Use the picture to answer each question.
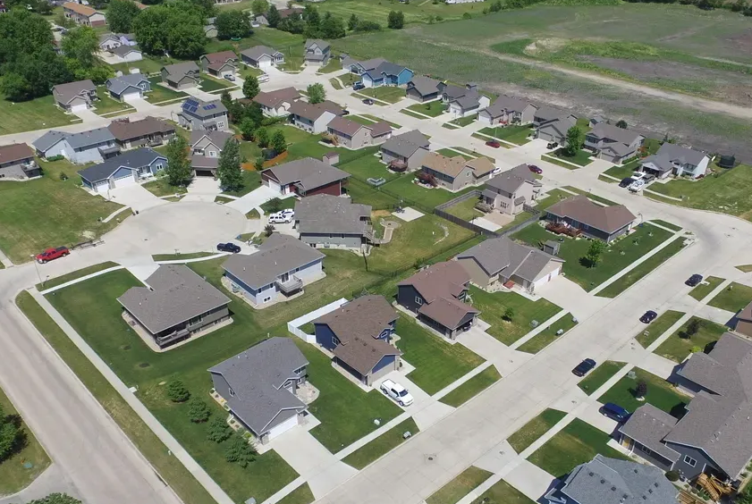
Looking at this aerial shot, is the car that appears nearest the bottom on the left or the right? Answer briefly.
right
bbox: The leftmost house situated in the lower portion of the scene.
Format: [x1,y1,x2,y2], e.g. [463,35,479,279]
[116,265,231,359]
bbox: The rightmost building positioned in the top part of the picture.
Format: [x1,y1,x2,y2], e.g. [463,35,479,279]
[638,143,709,182]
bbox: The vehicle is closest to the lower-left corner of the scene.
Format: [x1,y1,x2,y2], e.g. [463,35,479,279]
[36,248,72,265]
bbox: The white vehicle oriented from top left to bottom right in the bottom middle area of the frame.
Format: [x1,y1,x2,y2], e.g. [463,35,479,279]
[379,376,416,407]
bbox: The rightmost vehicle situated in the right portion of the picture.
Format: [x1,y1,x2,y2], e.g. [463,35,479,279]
[682,271,706,289]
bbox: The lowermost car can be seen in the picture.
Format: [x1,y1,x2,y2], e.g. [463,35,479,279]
[596,400,633,424]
